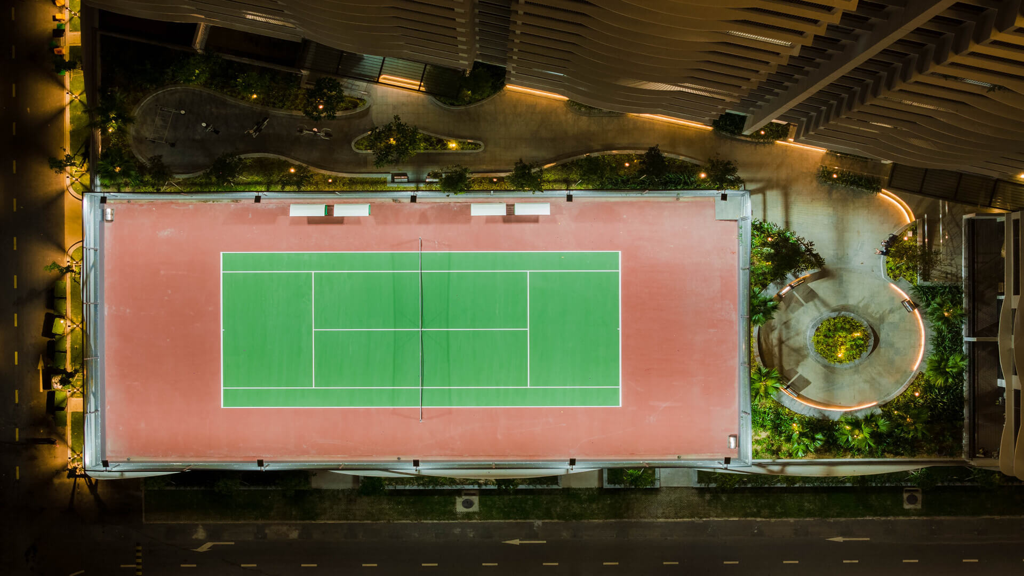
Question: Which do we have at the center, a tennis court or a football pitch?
tennis court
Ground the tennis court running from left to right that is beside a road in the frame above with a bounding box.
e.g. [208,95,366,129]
[100,196,743,464]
